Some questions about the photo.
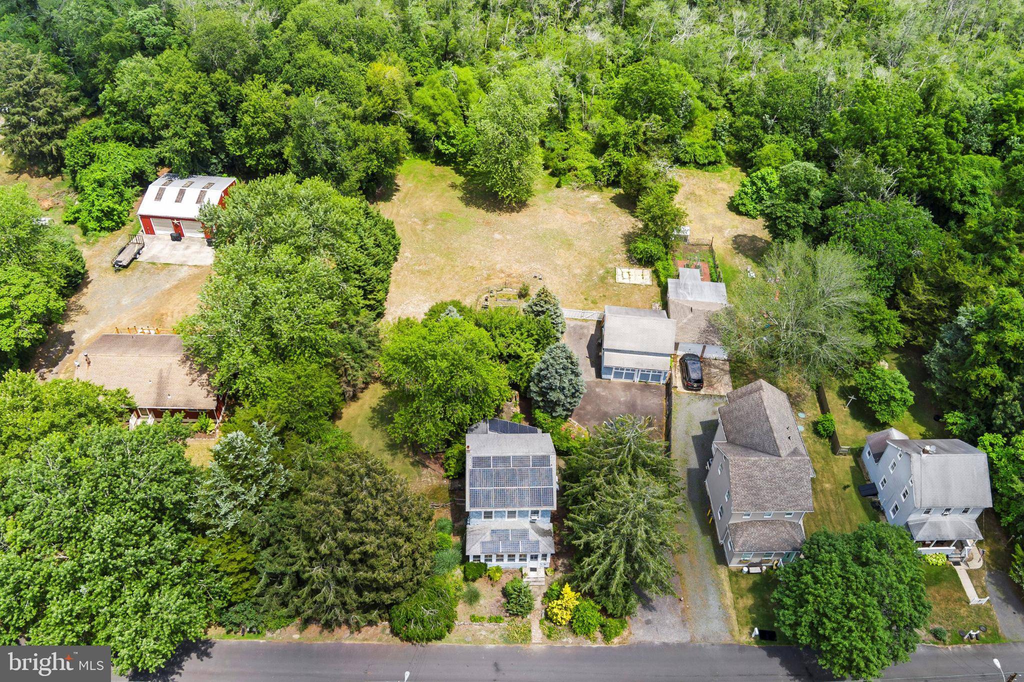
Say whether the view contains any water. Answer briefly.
No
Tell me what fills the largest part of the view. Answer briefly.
trees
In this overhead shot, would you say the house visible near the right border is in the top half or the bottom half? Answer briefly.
bottom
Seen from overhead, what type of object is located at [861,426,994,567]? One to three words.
house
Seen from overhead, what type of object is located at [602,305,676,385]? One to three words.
building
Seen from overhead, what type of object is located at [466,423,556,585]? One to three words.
house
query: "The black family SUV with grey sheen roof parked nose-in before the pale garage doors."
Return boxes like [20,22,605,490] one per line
[681,354,704,392]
